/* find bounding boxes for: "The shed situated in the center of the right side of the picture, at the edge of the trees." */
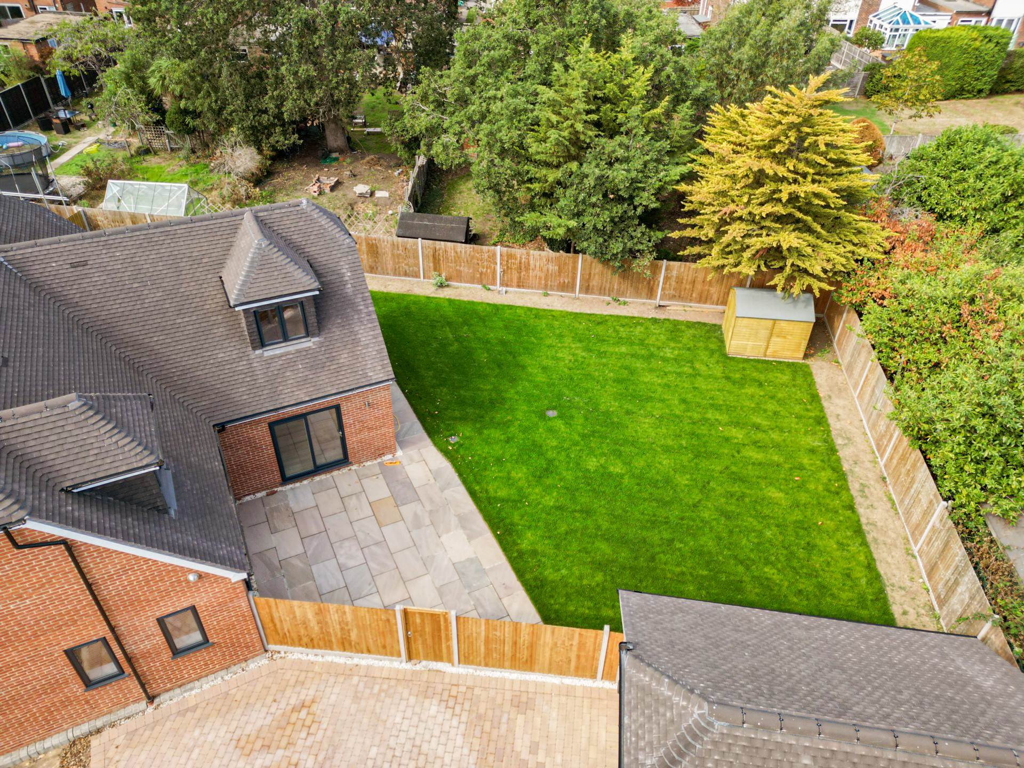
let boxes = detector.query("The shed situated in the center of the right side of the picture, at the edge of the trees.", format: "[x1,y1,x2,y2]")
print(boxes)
[720,284,819,361]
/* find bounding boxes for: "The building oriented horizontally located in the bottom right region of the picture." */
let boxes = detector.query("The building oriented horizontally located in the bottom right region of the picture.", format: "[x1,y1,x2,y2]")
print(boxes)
[613,586,1024,768]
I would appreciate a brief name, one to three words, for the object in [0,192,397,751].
house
